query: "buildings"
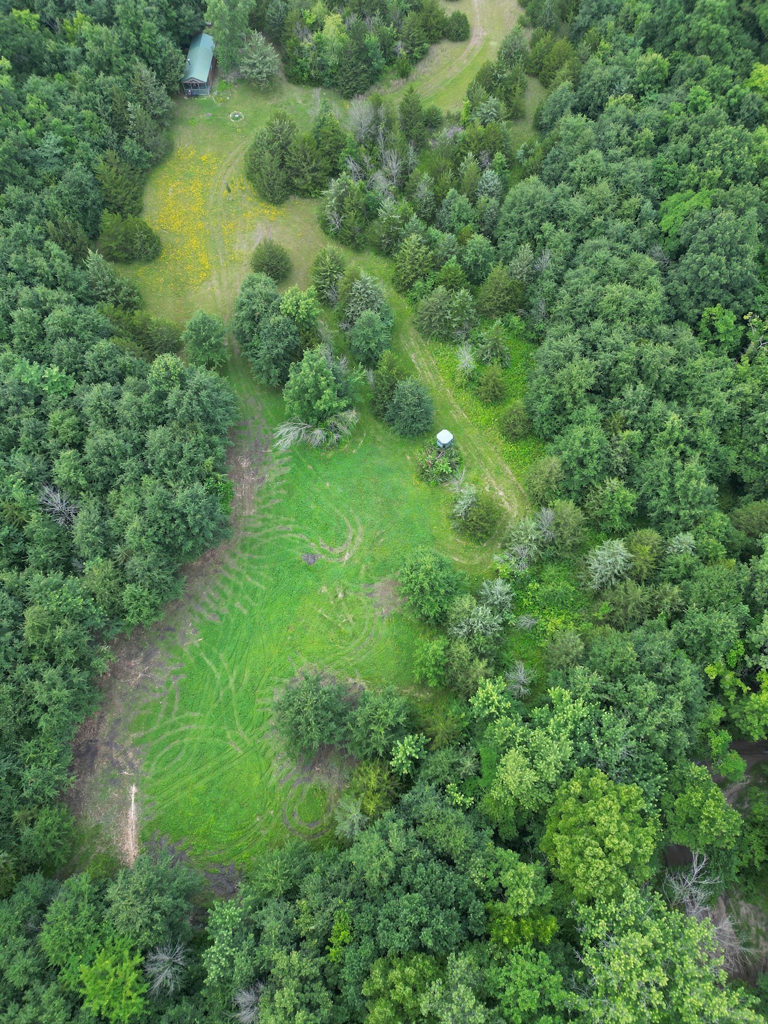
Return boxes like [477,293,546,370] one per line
[436,429,453,452]
[181,31,214,96]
